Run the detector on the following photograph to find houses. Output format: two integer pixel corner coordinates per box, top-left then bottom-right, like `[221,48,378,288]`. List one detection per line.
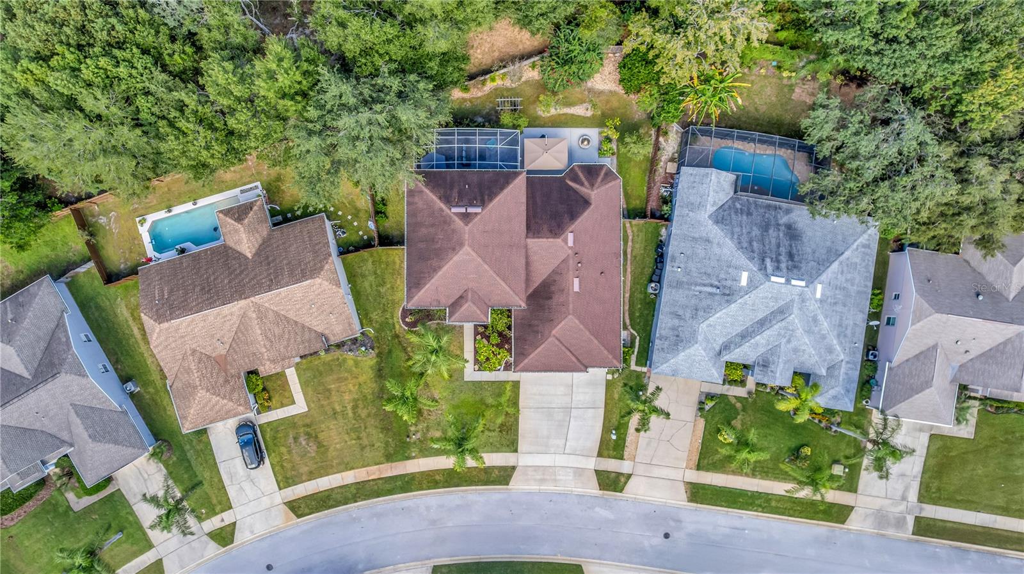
[0,273,157,494]
[404,162,623,373]
[138,195,373,435]
[871,222,1024,428]
[648,166,880,412]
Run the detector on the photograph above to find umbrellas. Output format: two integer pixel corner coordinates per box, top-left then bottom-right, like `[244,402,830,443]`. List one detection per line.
[524,127,568,170]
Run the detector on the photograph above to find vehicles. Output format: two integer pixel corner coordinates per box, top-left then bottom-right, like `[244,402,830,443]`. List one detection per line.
[234,421,266,472]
